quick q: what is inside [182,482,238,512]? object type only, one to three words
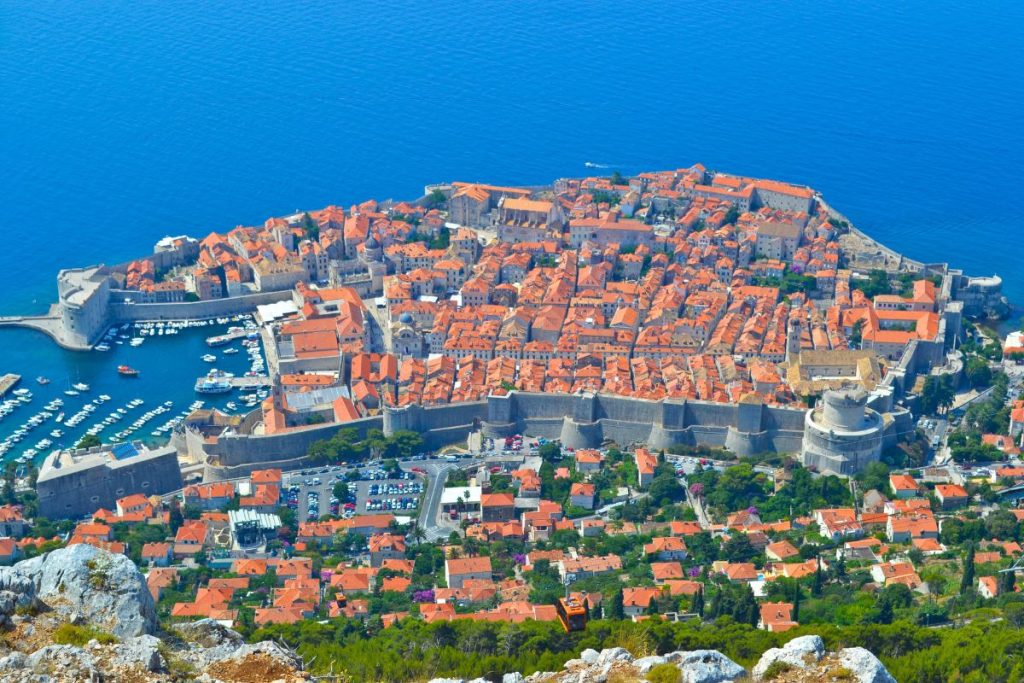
house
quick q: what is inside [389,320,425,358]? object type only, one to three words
building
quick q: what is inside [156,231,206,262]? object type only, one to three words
house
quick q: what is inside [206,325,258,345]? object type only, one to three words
pier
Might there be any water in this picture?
Yes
